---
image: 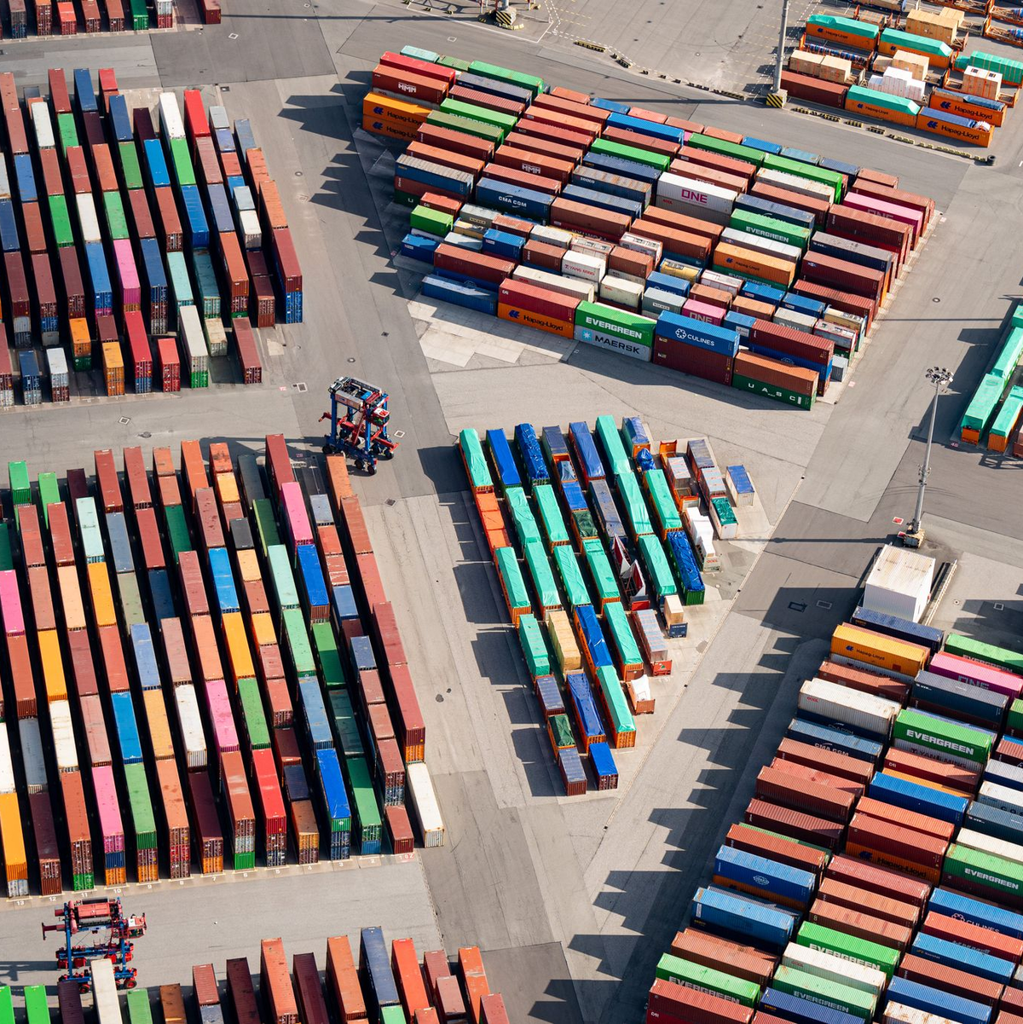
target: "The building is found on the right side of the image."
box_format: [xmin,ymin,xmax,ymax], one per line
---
[863,537,937,622]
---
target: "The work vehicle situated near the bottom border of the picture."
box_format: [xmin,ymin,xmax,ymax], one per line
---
[34,892,145,1001]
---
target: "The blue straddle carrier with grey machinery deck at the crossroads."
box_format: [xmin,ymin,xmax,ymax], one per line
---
[318,367,399,476]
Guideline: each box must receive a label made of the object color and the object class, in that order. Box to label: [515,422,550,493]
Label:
blue shipping container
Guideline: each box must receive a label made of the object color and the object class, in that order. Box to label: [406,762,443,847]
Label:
white shipping container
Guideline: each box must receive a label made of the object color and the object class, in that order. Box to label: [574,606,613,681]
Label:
blue shipping container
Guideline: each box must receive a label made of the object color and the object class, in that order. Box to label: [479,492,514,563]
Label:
orange shipping container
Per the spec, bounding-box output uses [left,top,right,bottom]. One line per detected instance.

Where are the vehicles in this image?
[318,367,399,476]
[34,892,145,1001]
